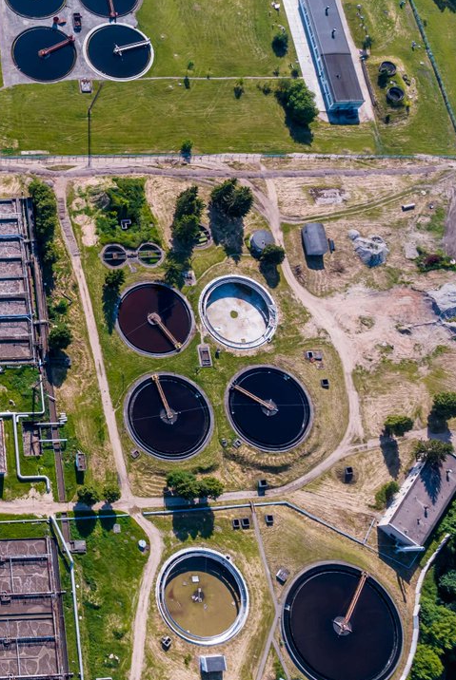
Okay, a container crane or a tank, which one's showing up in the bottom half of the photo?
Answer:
tank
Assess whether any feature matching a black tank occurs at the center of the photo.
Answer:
Yes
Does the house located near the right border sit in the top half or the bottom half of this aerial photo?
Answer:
bottom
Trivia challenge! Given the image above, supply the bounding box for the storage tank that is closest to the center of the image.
[200,275,280,350]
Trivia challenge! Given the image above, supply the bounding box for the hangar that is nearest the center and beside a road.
[299,222,328,260]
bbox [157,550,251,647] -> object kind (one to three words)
storage tank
